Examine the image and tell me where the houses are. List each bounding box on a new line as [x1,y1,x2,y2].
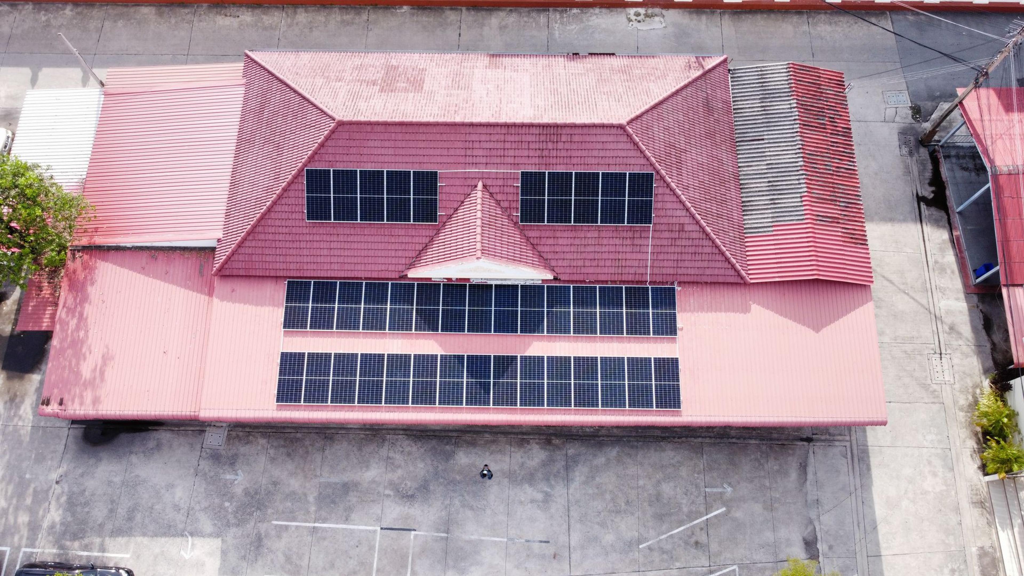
[209,46,753,295]
[936,88,1024,372]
